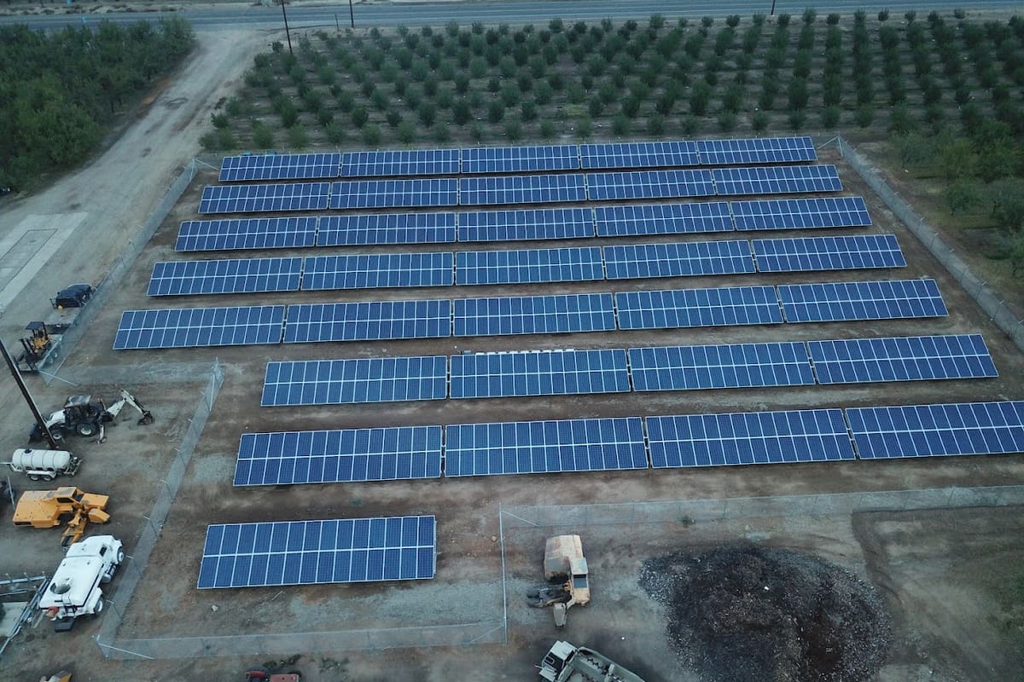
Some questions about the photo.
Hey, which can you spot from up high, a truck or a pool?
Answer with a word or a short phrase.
truck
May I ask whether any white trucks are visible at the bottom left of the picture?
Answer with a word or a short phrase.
Yes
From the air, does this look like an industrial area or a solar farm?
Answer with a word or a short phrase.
solar farm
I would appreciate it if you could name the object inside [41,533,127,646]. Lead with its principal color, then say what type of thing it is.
white truck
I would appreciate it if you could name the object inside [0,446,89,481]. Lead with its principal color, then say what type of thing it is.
white trailer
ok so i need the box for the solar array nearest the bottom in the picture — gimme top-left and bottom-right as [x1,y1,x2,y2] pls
[197,515,436,589]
